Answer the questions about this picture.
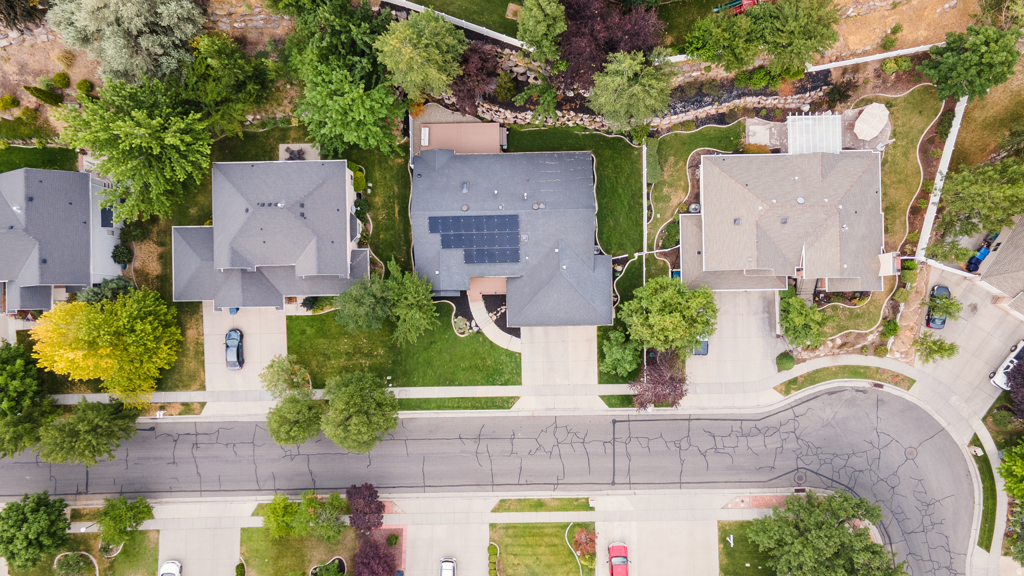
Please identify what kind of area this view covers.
residential area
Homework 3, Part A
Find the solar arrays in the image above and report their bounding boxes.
[428,215,519,264]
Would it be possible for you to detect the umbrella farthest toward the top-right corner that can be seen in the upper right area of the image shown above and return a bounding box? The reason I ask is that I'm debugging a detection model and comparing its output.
[854,102,889,141]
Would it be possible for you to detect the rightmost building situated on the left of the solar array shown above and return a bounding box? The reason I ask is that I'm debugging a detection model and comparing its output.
[172,159,371,312]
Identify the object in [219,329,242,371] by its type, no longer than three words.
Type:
car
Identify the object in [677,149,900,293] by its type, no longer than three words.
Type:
house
